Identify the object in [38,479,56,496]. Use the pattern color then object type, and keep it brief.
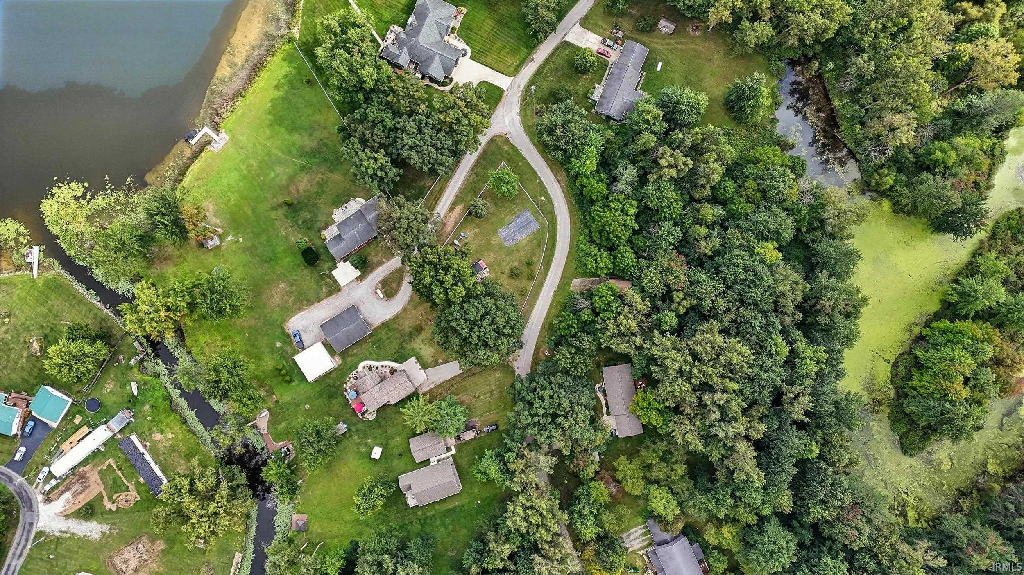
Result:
white vehicle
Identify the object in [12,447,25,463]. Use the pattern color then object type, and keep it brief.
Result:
white vehicle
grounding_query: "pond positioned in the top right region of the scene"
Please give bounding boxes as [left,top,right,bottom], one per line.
[776,57,862,191]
